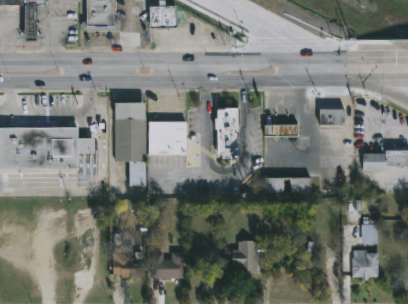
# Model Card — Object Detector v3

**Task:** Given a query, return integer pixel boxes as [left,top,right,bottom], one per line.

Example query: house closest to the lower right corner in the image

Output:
[352,250,379,281]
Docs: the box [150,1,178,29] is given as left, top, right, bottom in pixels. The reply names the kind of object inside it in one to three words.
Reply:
building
